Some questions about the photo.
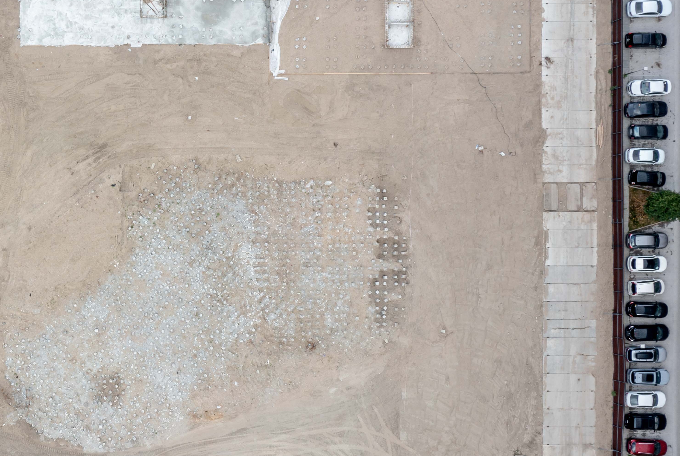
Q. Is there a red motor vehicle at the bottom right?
Yes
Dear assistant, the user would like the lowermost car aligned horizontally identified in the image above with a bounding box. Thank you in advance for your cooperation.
[624,437,667,456]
